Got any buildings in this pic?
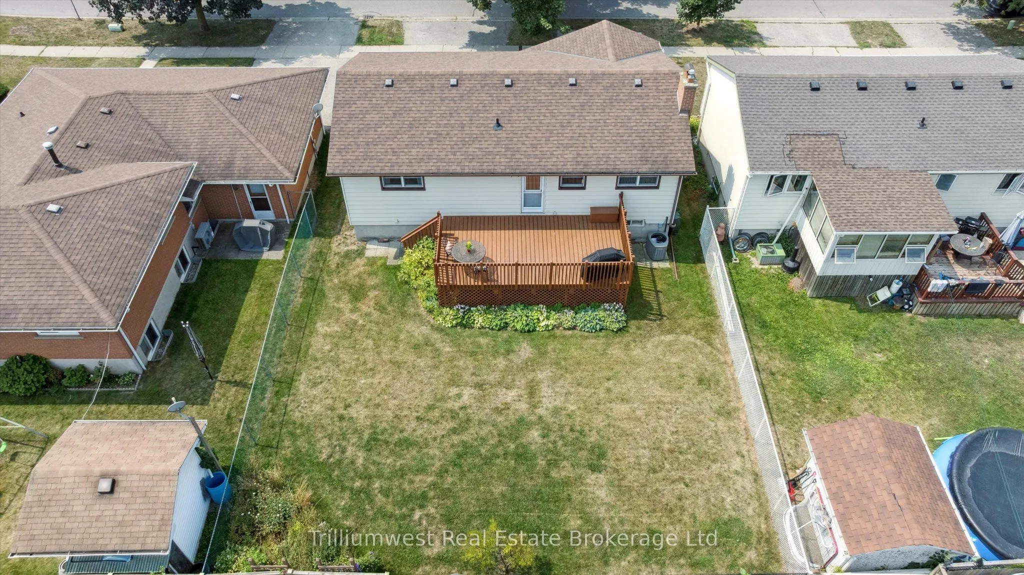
Yes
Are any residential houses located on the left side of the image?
Yes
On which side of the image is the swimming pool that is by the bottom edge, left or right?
right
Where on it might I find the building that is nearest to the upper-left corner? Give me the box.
[0,67,334,374]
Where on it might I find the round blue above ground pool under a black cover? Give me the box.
[932,426,1024,564]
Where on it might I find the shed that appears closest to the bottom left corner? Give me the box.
[10,418,215,573]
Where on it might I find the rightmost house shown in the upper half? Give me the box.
[695,52,1024,297]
